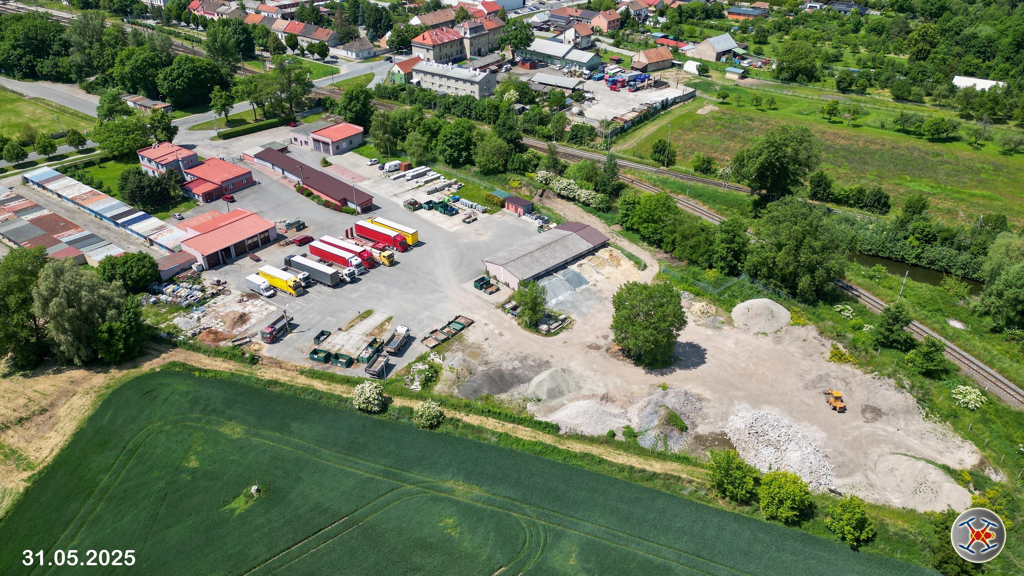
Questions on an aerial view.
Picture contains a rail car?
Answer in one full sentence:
No, I can't see a single rail car in this photo.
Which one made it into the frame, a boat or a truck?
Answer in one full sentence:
Of the two, only a truck appears.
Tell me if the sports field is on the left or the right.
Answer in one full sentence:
You can find the sports field on the left side of the picture.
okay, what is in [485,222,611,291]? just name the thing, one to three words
shed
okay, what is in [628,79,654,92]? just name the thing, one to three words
vehicle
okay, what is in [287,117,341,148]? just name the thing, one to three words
building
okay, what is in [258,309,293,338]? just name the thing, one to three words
truck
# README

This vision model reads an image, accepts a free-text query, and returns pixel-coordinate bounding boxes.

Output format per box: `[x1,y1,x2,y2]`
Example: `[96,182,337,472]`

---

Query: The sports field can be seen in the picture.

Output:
[0,93,100,155]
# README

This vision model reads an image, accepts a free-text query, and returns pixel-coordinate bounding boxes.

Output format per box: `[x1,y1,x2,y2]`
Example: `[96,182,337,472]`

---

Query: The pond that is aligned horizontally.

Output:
[847,252,987,293]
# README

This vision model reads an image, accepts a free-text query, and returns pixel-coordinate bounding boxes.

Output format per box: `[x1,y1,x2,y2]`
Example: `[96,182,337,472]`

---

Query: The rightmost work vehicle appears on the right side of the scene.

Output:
[822,389,850,412]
